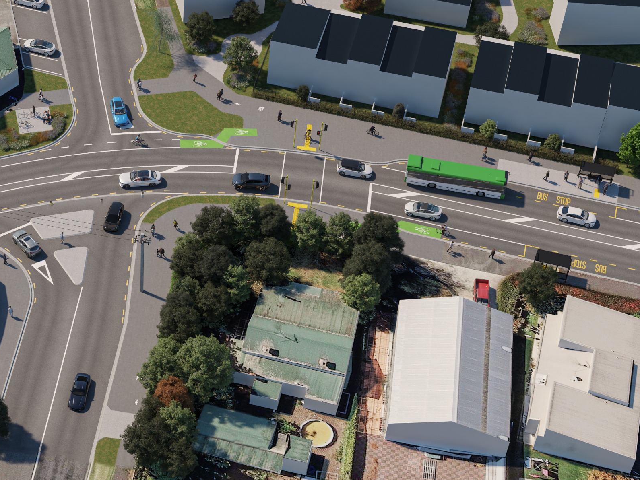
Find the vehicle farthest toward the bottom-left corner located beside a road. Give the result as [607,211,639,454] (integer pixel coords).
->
[69,372,92,412]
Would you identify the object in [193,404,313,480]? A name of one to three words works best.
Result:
shed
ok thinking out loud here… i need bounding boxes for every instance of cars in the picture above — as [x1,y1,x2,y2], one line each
[403,200,444,221]
[119,170,161,188]
[12,228,42,259]
[21,38,58,57]
[555,206,598,227]
[112,97,129,125]
[103,200,124,232]
[336,159,373,178]
[11,0,45,10]
[231,172,271,191]
[69,372,92,412]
